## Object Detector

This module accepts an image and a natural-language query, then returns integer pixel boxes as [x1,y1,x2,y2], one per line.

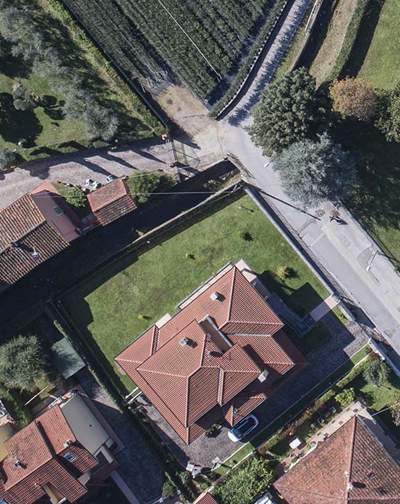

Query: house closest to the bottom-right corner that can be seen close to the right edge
[273,399,400,504]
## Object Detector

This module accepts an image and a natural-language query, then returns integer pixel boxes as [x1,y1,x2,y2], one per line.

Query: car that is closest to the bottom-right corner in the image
[224,415,258,445]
